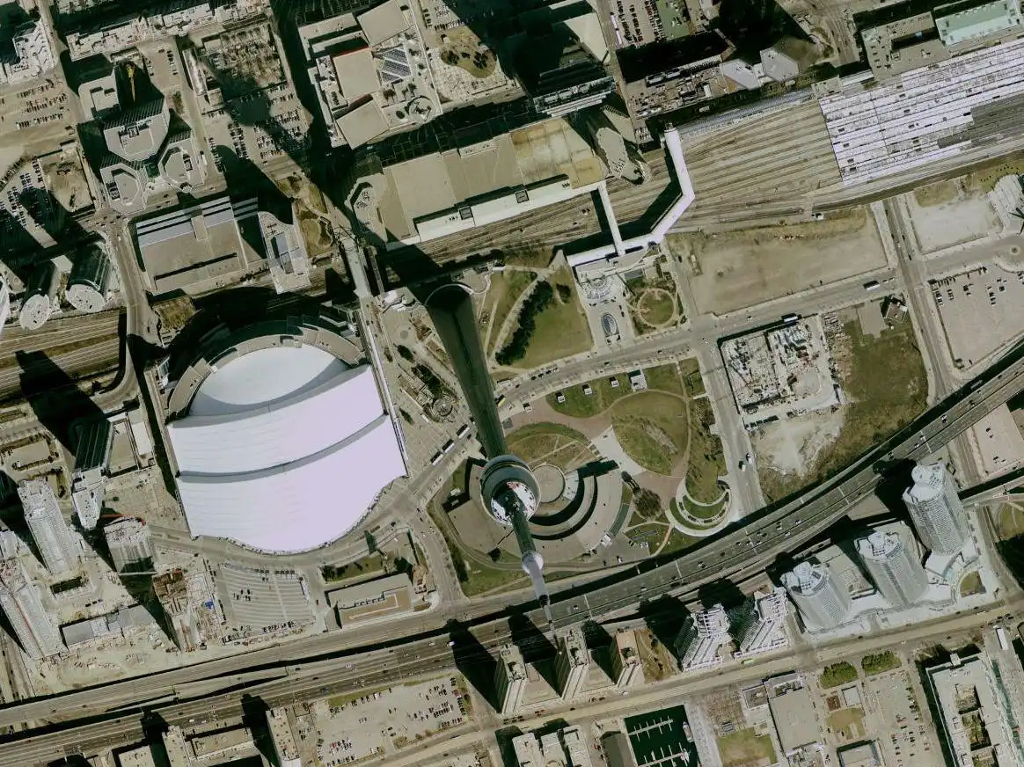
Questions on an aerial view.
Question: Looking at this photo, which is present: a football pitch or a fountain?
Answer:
fountain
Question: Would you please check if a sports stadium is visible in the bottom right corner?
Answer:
No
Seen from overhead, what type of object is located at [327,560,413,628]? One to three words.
building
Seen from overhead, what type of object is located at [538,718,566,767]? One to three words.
building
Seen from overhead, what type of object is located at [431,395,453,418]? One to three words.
fountain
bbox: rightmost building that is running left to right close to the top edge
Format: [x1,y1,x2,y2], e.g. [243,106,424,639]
[930,0,1023,46]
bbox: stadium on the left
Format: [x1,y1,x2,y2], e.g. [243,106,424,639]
[143,297,412,557]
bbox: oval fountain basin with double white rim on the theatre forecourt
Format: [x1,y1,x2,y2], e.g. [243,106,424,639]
[602,312,619,346]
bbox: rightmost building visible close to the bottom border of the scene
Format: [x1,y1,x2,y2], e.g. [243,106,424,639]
[922,644,1024,767]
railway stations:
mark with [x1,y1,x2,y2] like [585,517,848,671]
[821,38,1024,186]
